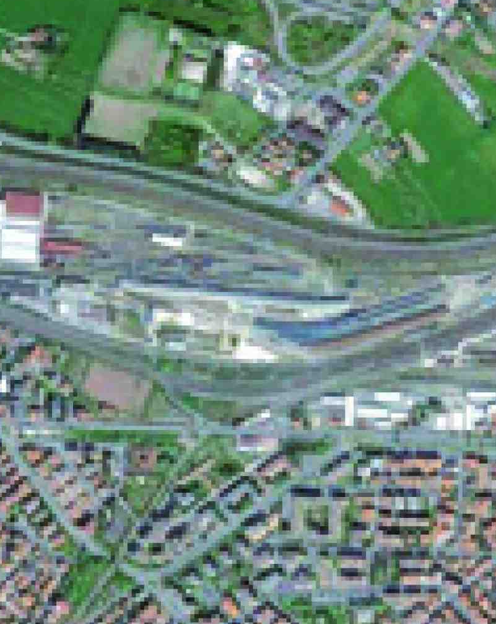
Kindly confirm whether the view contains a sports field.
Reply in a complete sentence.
Yes, a sports field appears in the view.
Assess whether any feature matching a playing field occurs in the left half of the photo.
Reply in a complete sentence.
Yes, a playing field shows up in the left half of the photo.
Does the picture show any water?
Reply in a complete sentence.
No, water can't be seen anywhere here.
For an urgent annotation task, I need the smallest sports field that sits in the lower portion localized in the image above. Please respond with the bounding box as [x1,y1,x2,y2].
[87,364,150,409]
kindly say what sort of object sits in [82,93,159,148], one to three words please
sports field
